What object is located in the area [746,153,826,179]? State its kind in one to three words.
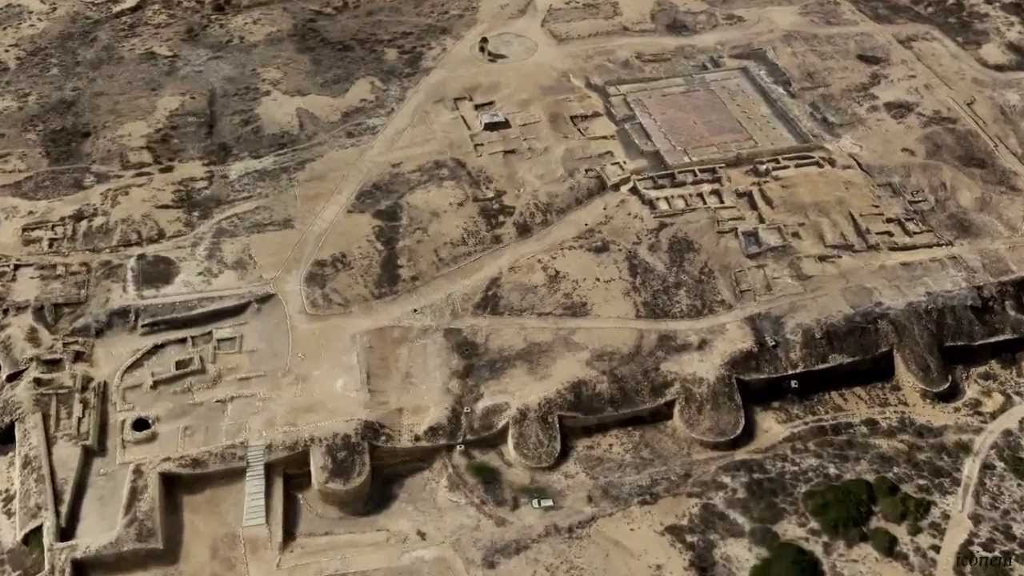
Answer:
building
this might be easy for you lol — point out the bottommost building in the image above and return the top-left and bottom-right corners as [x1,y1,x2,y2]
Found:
[40,334,97,372]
